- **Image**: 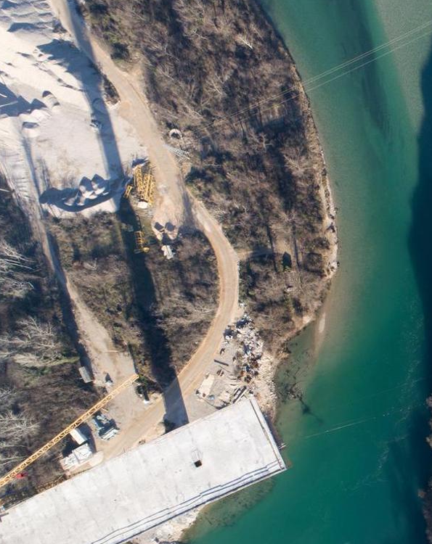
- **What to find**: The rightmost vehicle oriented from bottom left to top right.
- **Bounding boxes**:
[98,425,118,440]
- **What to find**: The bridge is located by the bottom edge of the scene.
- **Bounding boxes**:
[0,399,286,544]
